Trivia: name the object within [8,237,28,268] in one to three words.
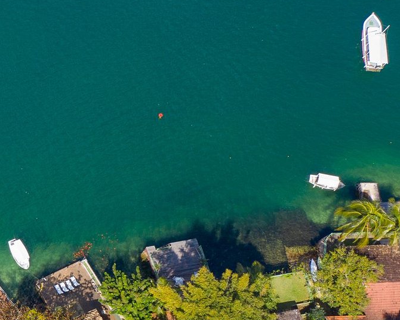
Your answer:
boat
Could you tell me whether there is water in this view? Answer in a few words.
Yes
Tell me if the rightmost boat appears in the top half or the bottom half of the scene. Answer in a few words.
top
